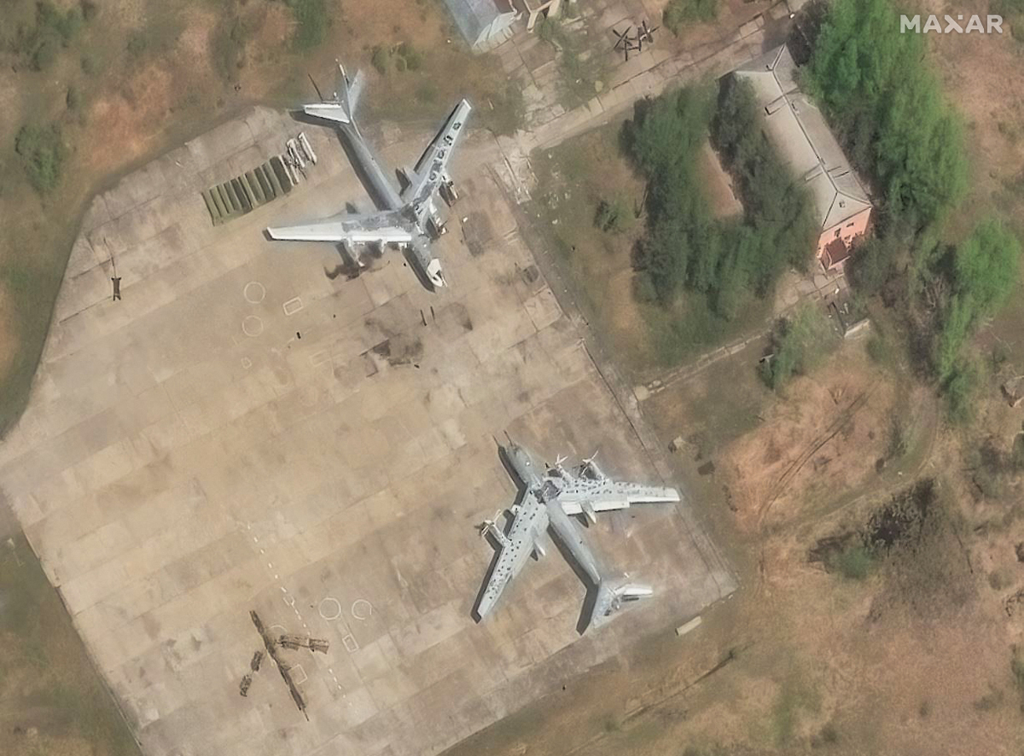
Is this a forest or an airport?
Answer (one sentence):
The picture captures an airport.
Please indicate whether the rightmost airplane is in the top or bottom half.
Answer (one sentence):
Seen from above, the rightmost airplane lies in the bottom half of the view.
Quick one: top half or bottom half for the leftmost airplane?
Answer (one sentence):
The leftmost airplane is in the top half of the image.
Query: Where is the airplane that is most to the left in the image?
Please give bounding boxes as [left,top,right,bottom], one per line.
[263,60,467,293]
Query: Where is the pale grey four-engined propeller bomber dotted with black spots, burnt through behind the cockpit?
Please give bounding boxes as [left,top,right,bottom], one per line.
[474,431,679,628]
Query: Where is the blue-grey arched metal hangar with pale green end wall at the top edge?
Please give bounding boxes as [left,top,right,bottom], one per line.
[443,0,516,60]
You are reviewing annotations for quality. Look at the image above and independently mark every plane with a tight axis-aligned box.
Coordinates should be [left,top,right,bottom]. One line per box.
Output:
[474,431,679,628]
[263,60,467,293]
